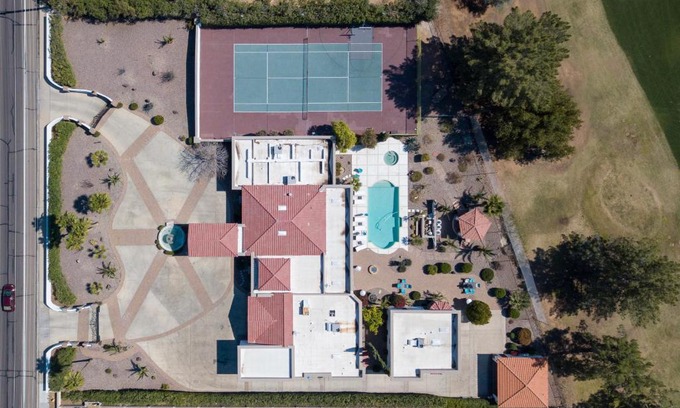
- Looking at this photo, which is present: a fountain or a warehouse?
fountain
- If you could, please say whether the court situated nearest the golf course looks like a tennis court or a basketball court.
tennis court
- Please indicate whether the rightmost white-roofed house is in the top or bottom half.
bottom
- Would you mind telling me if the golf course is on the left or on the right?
right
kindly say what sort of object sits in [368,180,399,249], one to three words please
swimming pool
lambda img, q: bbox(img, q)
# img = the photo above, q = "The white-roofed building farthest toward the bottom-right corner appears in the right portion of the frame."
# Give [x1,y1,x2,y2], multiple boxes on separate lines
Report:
[386,297,462,378]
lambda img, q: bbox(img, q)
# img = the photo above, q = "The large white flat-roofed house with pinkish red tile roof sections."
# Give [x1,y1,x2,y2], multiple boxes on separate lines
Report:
[186,137,362,378]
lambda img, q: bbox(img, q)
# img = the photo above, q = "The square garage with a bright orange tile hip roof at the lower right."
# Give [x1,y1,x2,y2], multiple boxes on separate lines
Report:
[488,350,549,408]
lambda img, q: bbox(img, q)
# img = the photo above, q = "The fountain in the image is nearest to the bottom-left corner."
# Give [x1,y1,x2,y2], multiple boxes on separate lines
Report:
[157,222,185,253]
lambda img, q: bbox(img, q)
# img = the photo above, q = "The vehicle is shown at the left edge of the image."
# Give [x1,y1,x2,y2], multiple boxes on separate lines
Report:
[1,283,18,312]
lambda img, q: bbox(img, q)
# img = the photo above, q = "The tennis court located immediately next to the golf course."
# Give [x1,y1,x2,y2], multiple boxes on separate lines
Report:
[201,25,420,138]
